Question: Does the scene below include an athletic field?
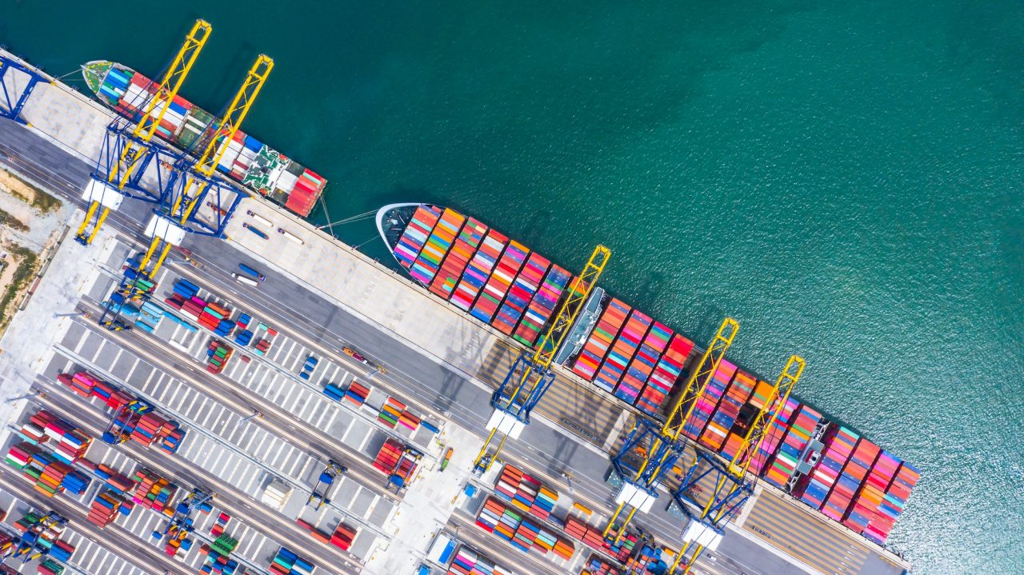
No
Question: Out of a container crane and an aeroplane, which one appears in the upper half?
container crane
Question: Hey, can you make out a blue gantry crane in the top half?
Yes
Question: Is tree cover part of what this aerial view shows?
No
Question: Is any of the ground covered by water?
Yes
